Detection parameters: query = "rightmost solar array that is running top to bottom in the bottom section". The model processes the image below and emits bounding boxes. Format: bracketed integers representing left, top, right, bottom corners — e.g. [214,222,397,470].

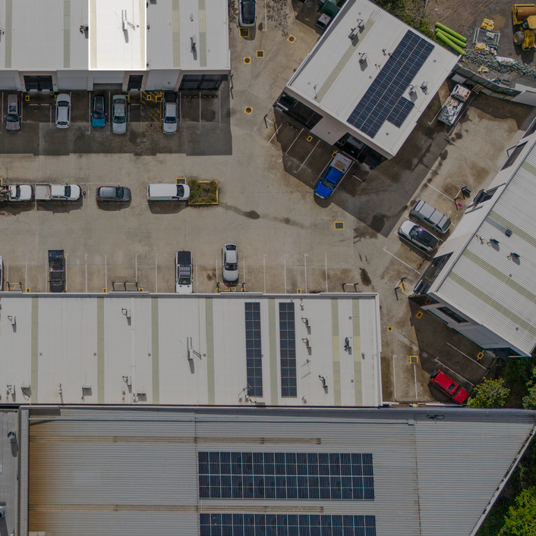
[280,302,298,398]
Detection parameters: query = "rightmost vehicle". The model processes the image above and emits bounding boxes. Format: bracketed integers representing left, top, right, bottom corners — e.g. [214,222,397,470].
[515,7,536,55]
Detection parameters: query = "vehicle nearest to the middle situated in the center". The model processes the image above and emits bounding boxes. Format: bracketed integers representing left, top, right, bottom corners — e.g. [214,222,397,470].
[222,243,241,285]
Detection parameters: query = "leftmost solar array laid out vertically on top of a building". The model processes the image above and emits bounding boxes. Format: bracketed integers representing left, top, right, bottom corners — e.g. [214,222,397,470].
[245,302,263,397]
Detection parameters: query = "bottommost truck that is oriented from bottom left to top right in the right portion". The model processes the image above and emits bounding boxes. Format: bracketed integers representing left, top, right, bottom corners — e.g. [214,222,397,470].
[315,152,353,198]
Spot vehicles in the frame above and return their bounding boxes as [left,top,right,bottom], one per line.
[428,369,471,404]
[110,95,129,134]
[160,91,180,135]
[89,94,108,130]
[173,250,193,292]
[237,0,255,28]
[436,82,472,128]
[407,199,451,234]
[36,183,82,202]
[95,184,133,203]
[395,221,440,253]
[47,248,66,292]
[222,243,241,285]
[53,92,72,132]
[515,7,536,55]
[315,152,353,198]
[2,183,32,202]
[146,183,190,203]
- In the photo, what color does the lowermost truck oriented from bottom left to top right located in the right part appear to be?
blue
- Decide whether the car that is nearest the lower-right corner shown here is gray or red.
red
